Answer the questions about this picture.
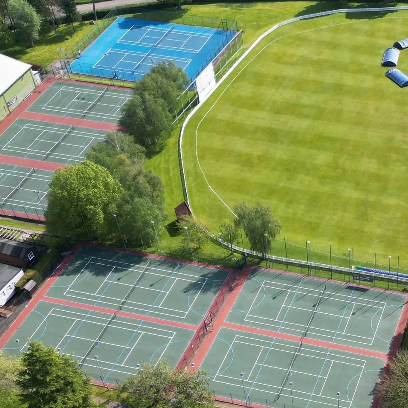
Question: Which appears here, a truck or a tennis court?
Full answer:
This aerial view contains a tennis court.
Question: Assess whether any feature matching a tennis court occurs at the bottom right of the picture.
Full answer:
Yes, a tennis court appears at the bottom right of the picture.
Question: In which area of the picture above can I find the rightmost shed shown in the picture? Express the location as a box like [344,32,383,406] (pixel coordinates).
[169,203,199,229]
